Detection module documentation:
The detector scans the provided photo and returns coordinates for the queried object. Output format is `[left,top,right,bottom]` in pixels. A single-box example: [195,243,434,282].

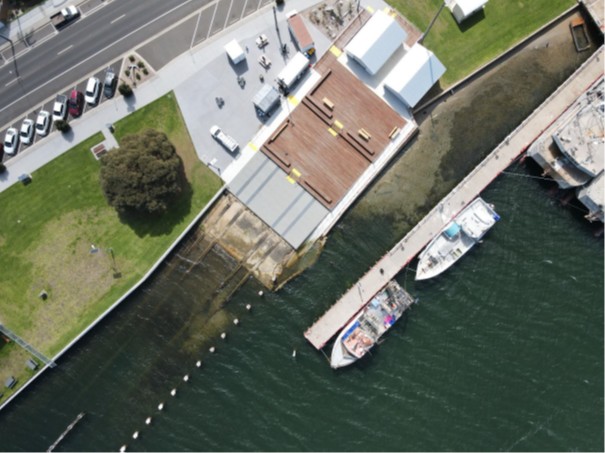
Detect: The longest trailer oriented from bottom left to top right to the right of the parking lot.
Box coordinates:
[277,51,310,93]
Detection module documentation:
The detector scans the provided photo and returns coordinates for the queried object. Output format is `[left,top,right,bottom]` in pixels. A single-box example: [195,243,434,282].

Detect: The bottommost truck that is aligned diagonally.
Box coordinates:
[210,125,239,155]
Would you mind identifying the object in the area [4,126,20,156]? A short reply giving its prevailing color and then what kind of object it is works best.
white car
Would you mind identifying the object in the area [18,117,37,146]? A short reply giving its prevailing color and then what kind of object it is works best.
white car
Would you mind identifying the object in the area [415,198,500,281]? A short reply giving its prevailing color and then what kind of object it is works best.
white boat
